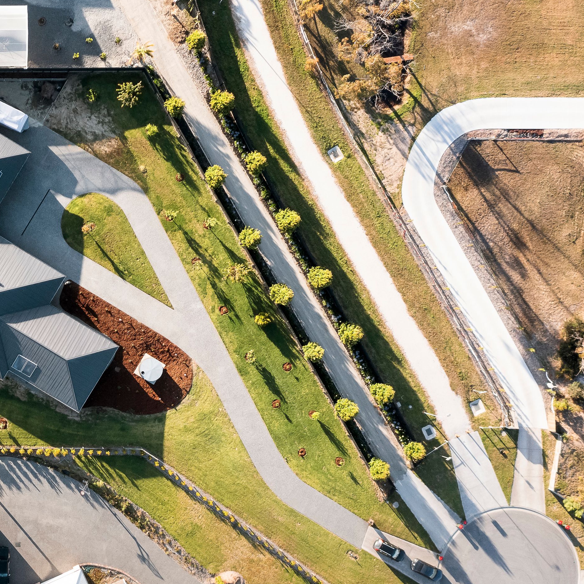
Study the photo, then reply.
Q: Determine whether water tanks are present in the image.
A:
Yes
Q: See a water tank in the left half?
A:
Yes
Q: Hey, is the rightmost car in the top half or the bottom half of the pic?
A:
bottom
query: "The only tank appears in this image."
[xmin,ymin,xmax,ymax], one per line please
[134,353,165,385]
